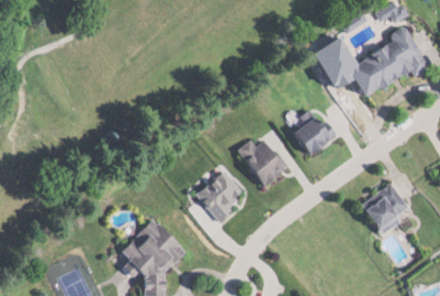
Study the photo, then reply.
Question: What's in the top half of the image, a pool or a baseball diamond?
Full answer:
Looking in the top half of the image, you will find a pool.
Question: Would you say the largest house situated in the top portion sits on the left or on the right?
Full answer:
It is on the right.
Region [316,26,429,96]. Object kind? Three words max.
house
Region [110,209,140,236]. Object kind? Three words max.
swimming pool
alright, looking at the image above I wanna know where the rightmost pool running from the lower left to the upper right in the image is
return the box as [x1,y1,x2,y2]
[350,28,376,52]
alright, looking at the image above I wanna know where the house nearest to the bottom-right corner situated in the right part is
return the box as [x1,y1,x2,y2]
[362,181,409,234]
